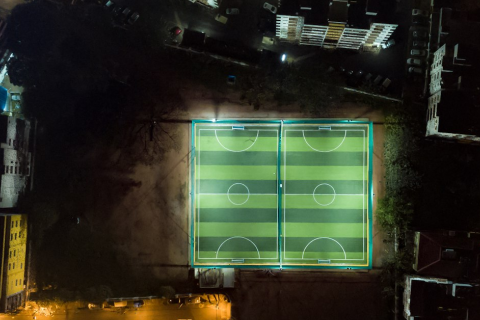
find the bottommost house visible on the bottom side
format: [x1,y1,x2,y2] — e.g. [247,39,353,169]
[402,275,480,320]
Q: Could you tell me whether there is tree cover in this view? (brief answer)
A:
Yes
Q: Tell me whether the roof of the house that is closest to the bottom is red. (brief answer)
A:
No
